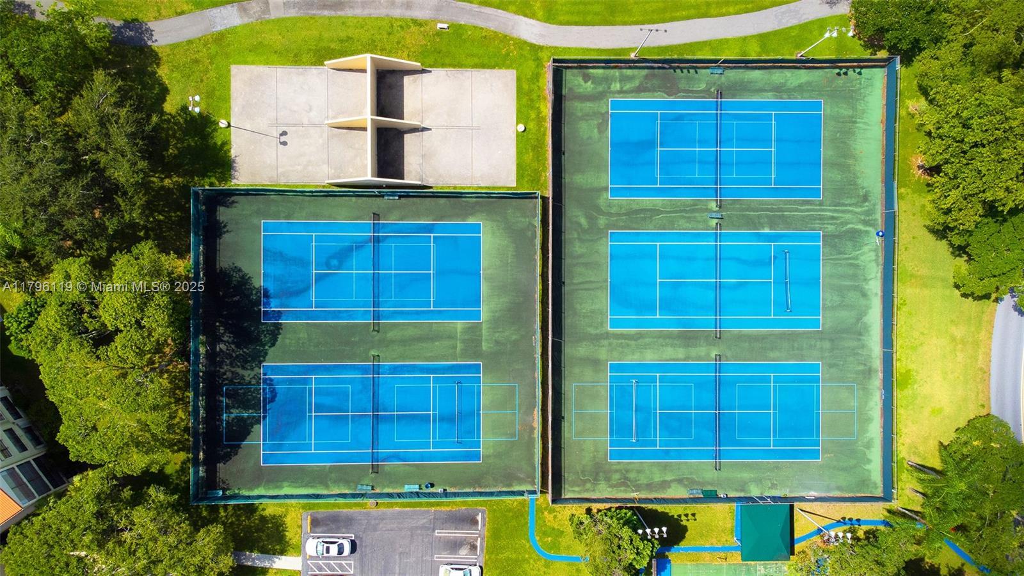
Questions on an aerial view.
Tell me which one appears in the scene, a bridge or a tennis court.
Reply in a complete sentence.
Looking from above, you can make out a tennis court.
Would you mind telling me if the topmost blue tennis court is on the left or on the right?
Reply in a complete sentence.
The topmost blue tennis court is on the right side of the image.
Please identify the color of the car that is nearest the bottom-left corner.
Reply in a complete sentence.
From above, the car that is nearest the bottom-left corner appears white.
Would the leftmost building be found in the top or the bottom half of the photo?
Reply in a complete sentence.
You can find the leftmost building in the bottom half.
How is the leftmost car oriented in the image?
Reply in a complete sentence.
The leftmost car has been laid out from side to side relative to the frame.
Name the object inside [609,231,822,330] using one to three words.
tennis court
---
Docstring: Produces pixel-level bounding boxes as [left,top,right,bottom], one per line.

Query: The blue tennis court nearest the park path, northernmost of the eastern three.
[610,98,822,199]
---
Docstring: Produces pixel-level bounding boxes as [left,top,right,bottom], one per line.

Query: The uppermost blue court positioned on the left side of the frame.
[262,221,482,322]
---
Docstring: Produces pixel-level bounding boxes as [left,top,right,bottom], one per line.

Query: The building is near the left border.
[0,381,72,525]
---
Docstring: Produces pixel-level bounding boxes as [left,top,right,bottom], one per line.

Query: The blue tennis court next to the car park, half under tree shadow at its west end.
[225,363,518,465]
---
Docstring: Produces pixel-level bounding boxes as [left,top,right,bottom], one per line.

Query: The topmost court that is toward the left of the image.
[231,65,516,186]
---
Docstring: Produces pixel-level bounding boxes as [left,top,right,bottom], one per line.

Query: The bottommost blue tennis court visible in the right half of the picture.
[573,362,856,462]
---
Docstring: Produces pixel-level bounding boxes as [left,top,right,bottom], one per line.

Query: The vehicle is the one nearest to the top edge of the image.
[307,534,352,557]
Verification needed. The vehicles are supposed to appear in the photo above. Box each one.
[307,534,352,557]
[440,562,482,576]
